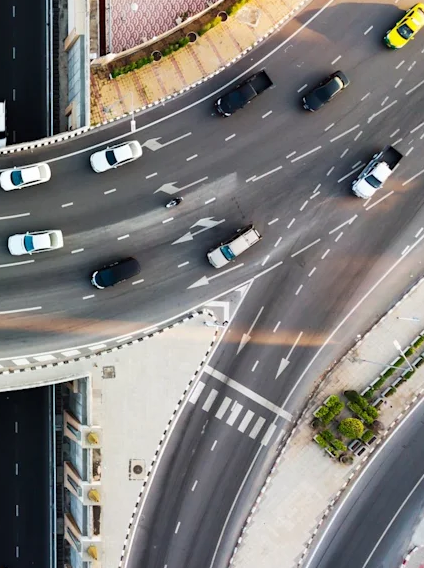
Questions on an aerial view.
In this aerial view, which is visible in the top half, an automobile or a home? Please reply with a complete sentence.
There is an automobile in the top half.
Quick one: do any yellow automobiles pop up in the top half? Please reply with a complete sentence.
Yes, the scene does show a yellow automobile in the top half.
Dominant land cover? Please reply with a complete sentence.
Most of the picture is covered by paved ground.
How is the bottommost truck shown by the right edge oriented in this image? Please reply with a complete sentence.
The bottommost truck shown by the right edge is laid out on a diagonal.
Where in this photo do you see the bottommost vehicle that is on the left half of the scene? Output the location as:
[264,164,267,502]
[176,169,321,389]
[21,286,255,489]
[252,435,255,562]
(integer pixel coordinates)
[89,256,142,288]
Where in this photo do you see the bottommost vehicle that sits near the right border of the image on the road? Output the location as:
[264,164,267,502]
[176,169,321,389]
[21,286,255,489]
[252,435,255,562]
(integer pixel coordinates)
[348,144,407,195]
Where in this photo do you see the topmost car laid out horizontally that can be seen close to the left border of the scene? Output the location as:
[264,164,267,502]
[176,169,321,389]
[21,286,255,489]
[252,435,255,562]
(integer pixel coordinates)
[0,163,50,191]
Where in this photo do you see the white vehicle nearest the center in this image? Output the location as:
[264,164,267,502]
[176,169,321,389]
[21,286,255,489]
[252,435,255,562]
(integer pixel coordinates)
[204,223,264,265]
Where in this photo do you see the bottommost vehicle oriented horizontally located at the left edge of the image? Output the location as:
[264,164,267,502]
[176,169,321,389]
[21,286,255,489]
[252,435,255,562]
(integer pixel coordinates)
[8,229,63,256]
